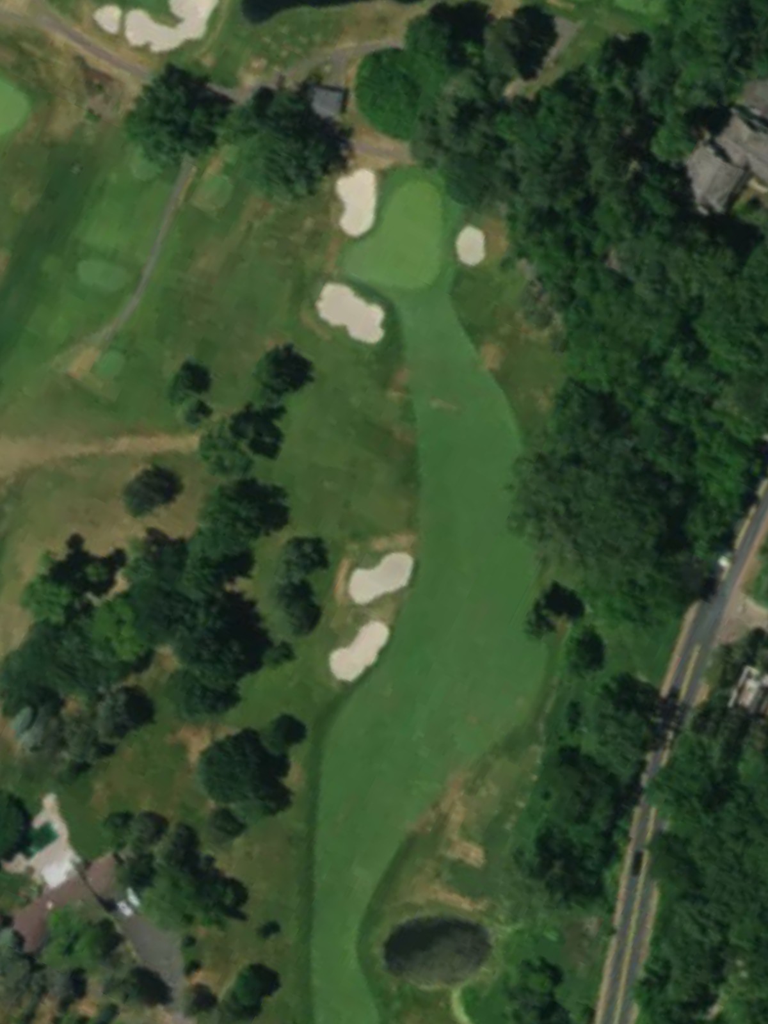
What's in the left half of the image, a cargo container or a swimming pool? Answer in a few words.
swimming pool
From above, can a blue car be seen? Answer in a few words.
No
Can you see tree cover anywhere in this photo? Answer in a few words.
Yes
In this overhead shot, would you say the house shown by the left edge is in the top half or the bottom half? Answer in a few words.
bottom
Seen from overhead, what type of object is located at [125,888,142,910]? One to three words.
car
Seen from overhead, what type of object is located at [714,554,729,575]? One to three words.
vehicle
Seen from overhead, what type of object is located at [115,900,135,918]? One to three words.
car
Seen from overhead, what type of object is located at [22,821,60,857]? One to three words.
swimming pool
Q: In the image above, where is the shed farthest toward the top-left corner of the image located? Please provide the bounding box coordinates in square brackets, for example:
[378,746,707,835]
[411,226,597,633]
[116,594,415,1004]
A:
[311,85,345,117]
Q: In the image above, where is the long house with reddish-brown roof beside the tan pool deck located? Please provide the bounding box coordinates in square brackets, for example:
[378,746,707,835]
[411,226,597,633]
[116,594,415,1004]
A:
[11,855,128,955]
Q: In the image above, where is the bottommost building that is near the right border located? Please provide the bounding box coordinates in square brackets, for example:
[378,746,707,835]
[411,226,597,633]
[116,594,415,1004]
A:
[727,666,768,716]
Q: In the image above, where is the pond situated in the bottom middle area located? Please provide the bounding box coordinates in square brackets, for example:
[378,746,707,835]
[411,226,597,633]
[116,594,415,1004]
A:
[388,919,491,980]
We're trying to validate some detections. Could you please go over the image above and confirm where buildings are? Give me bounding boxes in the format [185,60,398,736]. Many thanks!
[11,855,128,955]
[727,666,768,716]
[684,72,768,208]
[311,85,345,117]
